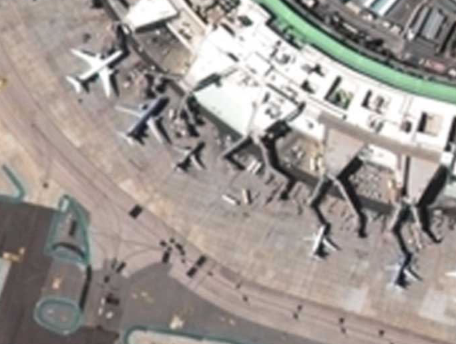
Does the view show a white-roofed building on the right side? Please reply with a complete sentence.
Yes, a white-roofed building is visible on the right side.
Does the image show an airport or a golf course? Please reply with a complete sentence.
What you see here is an airport.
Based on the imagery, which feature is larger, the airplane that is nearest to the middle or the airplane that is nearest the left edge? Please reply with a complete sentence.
Compared with the airplane that is nearest to the middle, the airplane that is nearest the left edge is the bigger one.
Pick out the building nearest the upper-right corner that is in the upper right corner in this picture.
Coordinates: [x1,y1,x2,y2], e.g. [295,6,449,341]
[403,6,454,59]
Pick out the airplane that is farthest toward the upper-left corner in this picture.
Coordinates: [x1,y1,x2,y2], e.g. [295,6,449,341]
[64,49,120,98]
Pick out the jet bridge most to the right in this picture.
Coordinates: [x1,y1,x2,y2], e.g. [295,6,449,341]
[411,206,433,243]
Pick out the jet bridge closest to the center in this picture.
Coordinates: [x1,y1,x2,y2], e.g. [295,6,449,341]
[221,134,253,173]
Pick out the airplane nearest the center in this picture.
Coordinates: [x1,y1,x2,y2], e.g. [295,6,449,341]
[172,144,203,173]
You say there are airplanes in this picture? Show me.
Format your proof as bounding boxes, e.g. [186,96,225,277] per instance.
[118,97,168,144]
[301,228,335,260]
[172,144,203,173]
[384,257,417,290]
[64,49,120,98]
